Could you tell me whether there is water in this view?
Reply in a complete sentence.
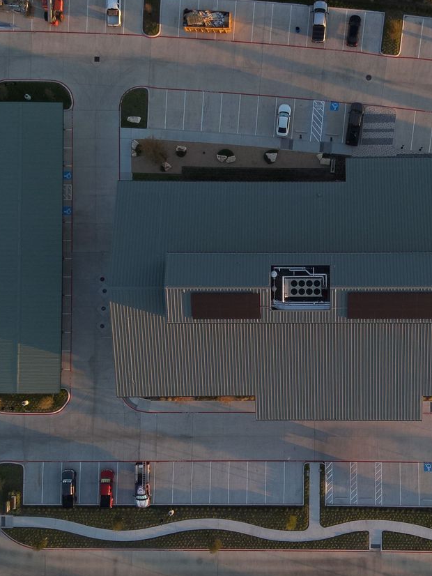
No, water can't be seen anywhere here.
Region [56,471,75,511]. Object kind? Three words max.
vehicle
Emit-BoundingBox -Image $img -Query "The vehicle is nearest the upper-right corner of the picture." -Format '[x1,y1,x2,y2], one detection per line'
[346,12,363,46]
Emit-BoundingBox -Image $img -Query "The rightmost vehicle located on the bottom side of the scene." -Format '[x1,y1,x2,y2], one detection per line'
[131,464,150,509]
